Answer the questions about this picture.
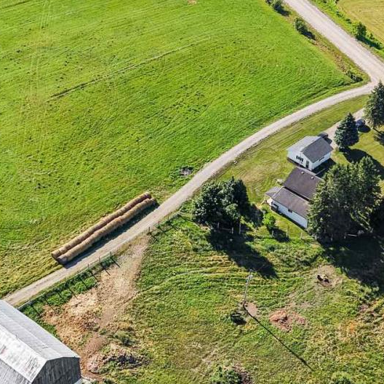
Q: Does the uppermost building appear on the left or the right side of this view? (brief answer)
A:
right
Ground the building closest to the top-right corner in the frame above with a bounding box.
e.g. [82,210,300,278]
[286,135,331,170]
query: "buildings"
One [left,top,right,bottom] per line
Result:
[286,135,331,170]
[0,299,84,384]
[260,169,345,229]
